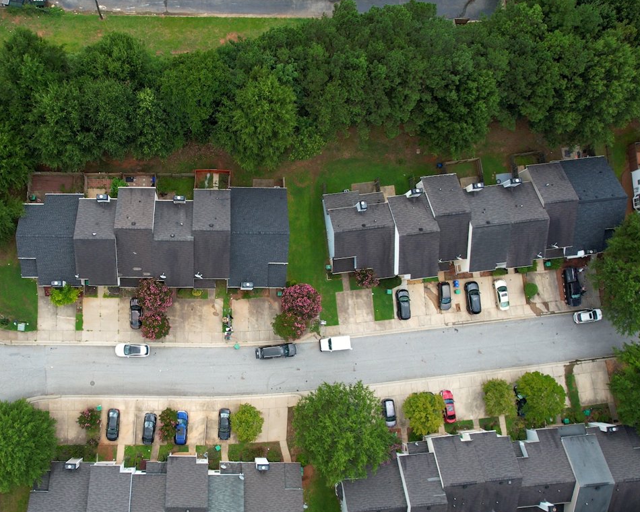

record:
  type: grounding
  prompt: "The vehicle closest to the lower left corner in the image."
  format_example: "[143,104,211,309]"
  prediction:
[105,407,121,442]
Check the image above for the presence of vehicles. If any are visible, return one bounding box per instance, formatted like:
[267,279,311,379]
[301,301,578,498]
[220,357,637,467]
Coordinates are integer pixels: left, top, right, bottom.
[491,278,511,312]
[317,335,354,352]
[439,389,457,424]
[128,298,143,330]
[217,407,233,441]
[569,308,603,325]
[255,342,297,360]
[174,410,191,446]
[417,387,432,400]
[105,407,121,442]
[115,342,151,359]
[380,397,398,427]
[394,288,412,321]
[463,280,482,315]
[561,266,584,307]
[142,411,159,446]
[435,280,454,311]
